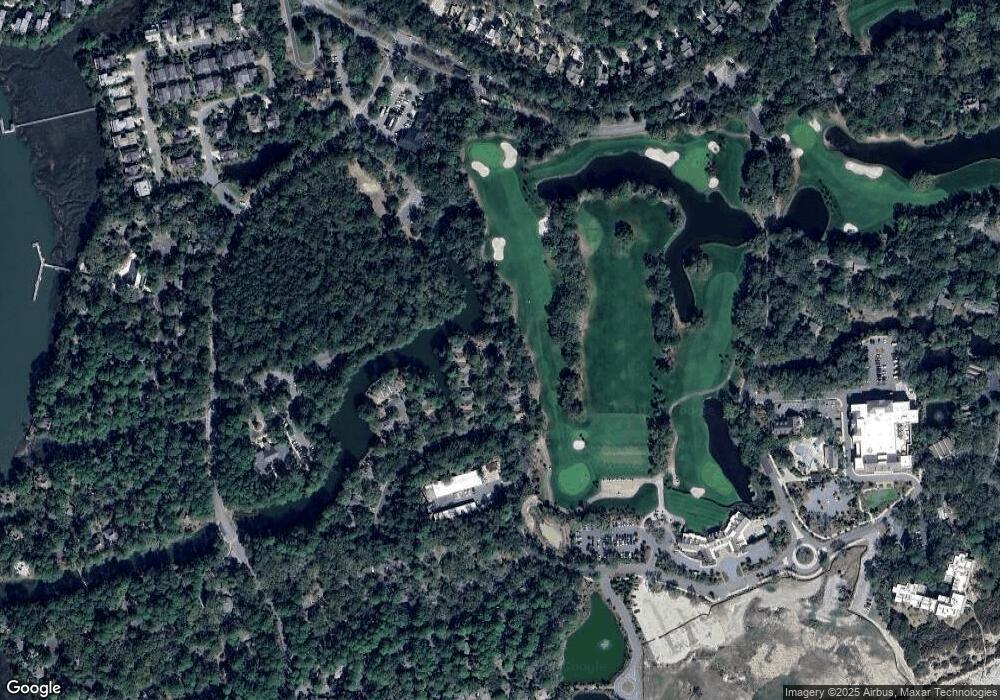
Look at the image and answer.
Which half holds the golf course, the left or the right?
right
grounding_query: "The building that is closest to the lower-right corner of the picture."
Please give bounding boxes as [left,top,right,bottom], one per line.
[892,552,975,620]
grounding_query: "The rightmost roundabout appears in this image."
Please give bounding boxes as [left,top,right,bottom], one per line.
[785,536,820,571]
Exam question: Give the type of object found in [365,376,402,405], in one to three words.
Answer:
house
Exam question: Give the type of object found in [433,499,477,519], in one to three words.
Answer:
building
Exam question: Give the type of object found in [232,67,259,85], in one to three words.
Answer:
house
